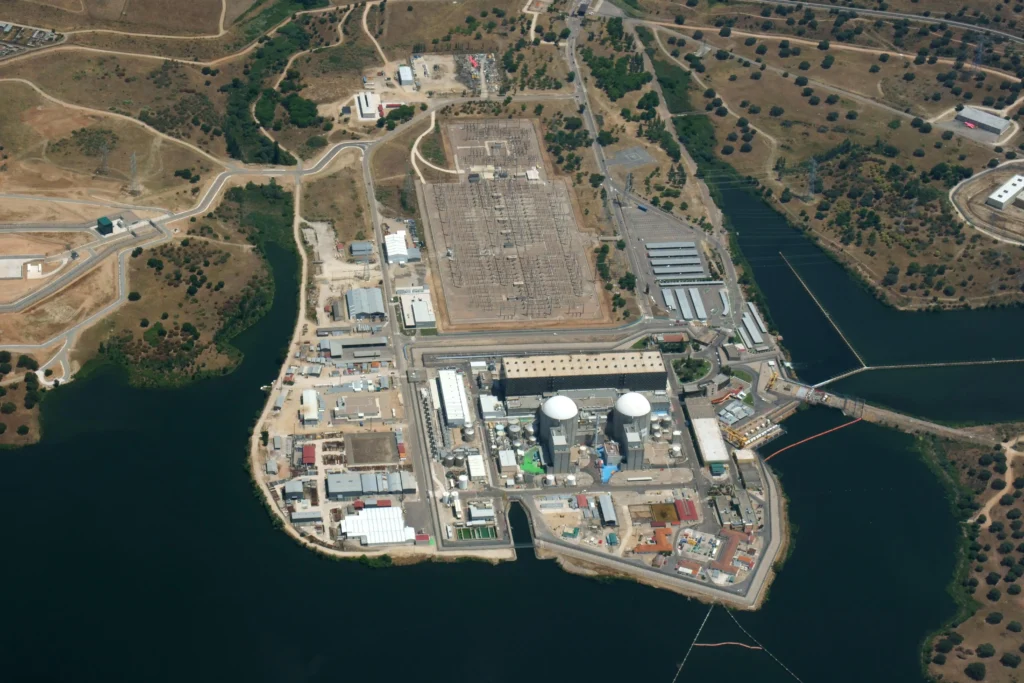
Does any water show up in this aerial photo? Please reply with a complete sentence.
Yes, water can be seen from above here.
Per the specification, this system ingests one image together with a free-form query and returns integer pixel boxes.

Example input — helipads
[607,147,656,167]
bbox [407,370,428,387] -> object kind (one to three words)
building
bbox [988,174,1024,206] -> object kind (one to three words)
building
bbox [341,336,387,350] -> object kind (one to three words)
shed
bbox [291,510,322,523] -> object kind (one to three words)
shed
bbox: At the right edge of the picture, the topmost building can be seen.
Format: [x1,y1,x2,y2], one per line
[956,106,1010,132]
